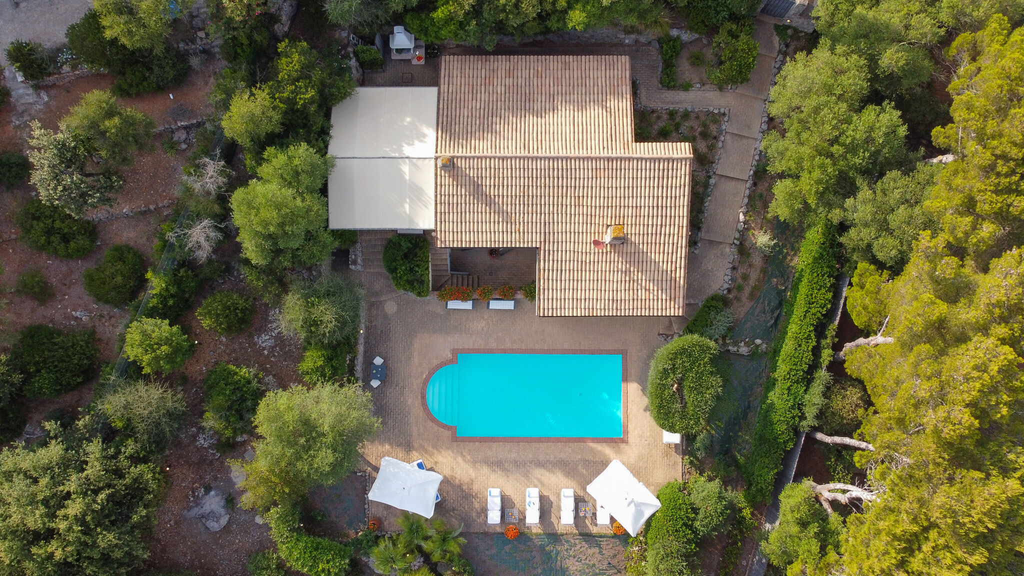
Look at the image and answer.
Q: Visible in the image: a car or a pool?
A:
pool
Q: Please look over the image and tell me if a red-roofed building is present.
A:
No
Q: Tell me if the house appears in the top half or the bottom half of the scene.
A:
top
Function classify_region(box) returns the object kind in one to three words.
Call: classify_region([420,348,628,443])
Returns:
swimming pool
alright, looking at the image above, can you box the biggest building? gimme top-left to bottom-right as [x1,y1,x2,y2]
[434,56,692,317]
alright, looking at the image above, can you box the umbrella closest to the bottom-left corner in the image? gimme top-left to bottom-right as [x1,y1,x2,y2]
[368,456,444,519]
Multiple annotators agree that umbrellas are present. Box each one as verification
[368,456,444,519]
[586,460,660,537]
